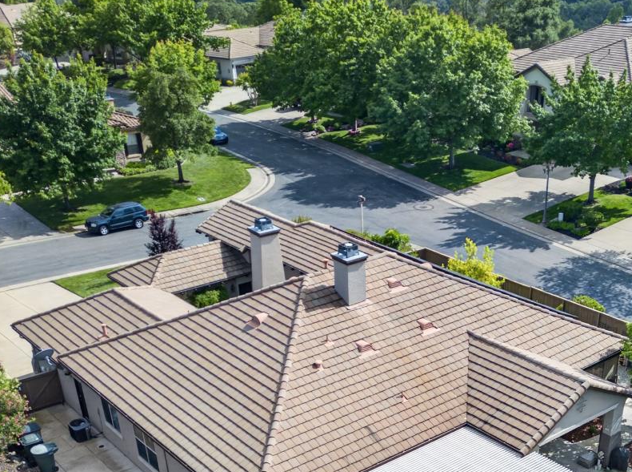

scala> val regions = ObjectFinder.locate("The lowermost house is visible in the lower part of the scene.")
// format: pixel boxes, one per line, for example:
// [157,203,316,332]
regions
[11,197,632,472]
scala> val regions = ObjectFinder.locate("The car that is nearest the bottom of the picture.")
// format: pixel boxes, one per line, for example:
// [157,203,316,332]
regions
[81,201,145,235]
